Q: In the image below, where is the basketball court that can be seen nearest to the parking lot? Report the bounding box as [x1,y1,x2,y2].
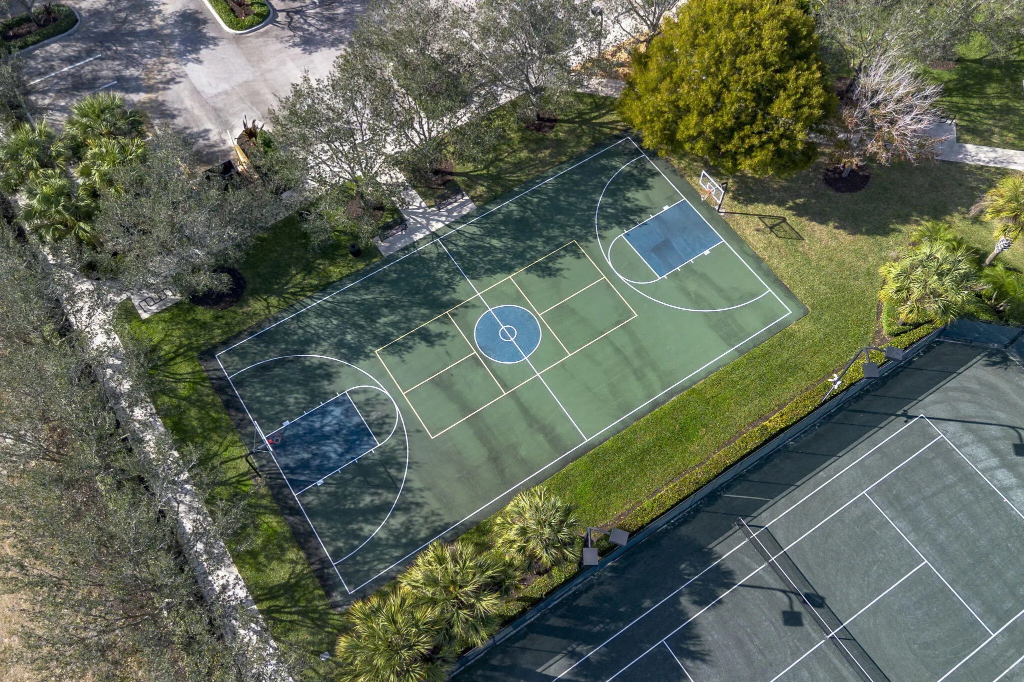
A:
[198,127,809,613]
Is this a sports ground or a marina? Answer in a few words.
sports ground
